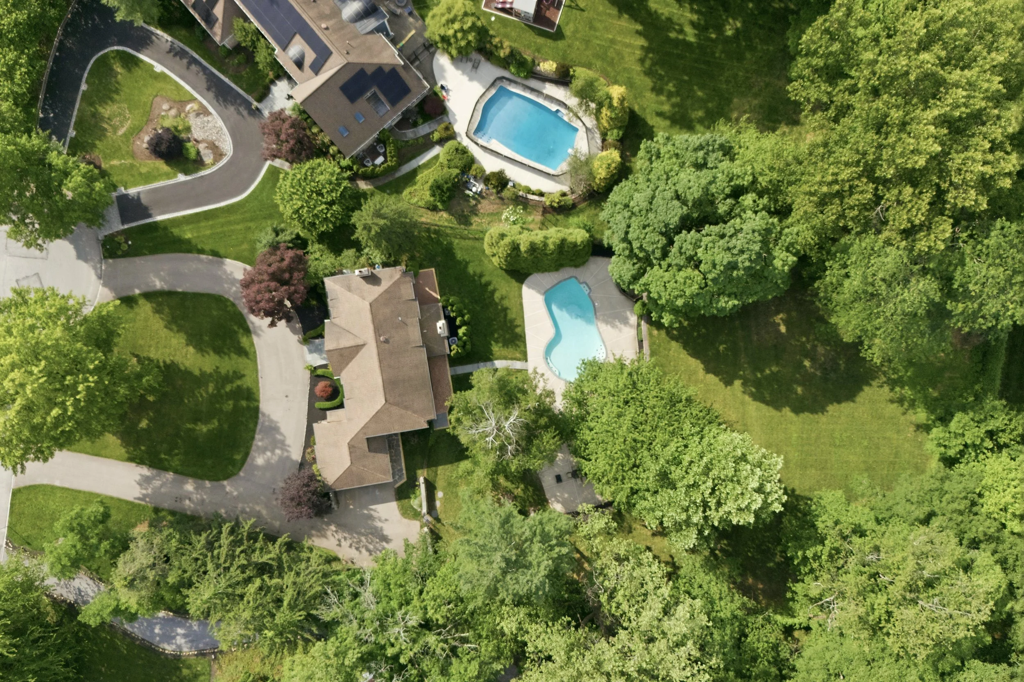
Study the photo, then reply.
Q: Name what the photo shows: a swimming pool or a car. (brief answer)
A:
swimming pool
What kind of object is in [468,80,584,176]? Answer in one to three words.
swimming pool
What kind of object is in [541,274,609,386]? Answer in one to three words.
swimming pool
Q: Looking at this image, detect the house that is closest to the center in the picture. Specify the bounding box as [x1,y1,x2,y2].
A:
[313,266,450,492]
